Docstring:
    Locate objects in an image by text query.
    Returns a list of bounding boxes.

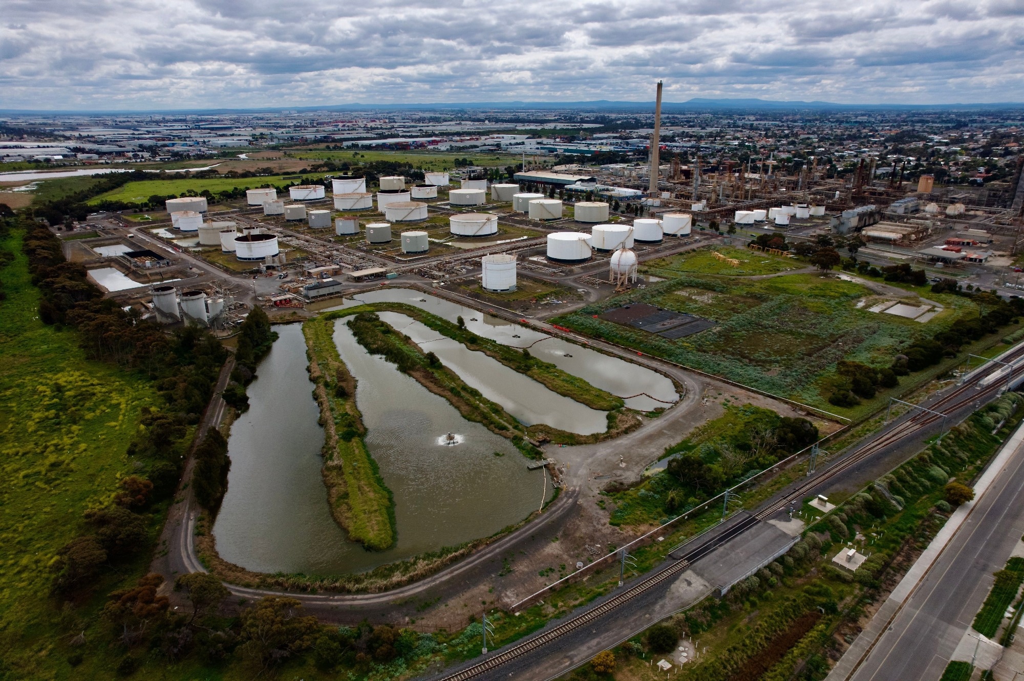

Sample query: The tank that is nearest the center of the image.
[479,254,519,293]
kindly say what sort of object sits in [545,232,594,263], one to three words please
storage tank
